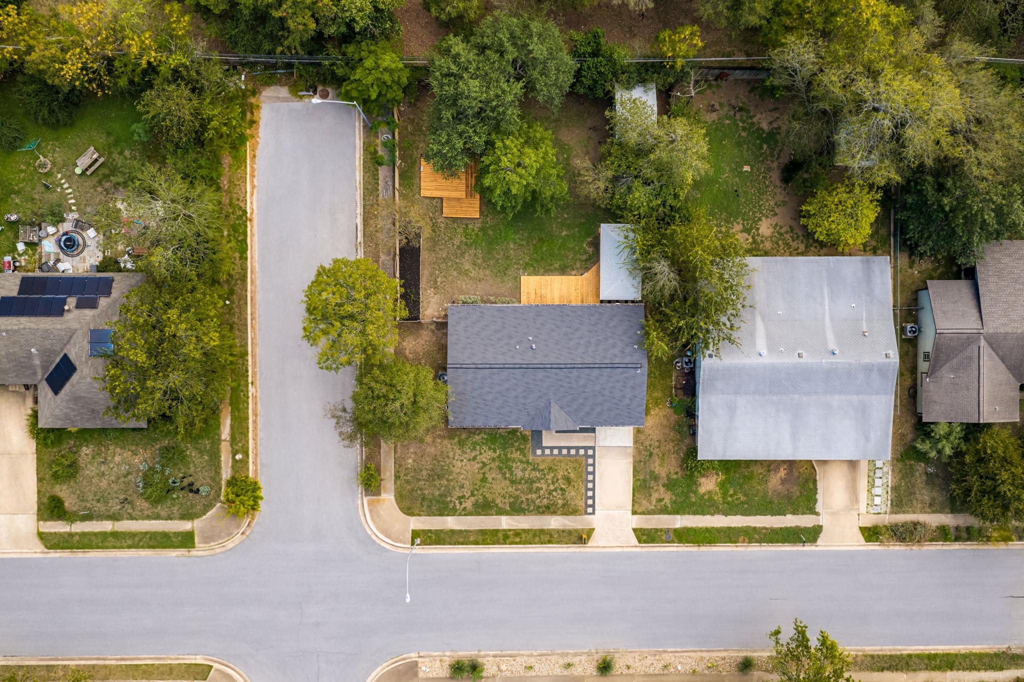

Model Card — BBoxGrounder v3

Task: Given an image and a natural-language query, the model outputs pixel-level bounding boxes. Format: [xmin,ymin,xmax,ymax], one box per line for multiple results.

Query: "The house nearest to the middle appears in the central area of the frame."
[447,303,648,432]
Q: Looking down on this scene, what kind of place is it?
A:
residential area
